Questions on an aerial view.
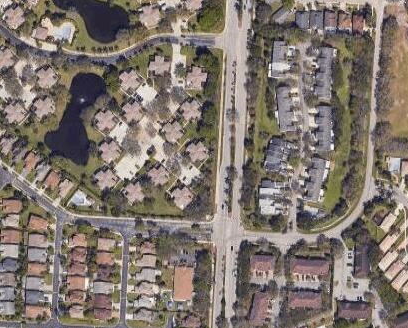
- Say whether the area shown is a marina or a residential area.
residential area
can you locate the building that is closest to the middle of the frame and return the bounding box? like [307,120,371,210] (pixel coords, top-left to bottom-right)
[184,140,208,162]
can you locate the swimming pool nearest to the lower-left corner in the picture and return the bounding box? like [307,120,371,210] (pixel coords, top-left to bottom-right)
[71,190,91,209]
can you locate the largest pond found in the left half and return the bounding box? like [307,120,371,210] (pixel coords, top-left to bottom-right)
[43,71,106,166]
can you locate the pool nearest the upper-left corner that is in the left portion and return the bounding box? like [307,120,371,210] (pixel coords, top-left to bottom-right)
[56,23,74,40]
